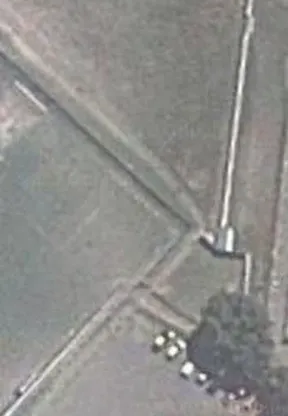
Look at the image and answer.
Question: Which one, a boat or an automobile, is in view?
automobile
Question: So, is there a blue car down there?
No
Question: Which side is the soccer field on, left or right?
left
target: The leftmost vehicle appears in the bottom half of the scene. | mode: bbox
[154,330,177,347]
